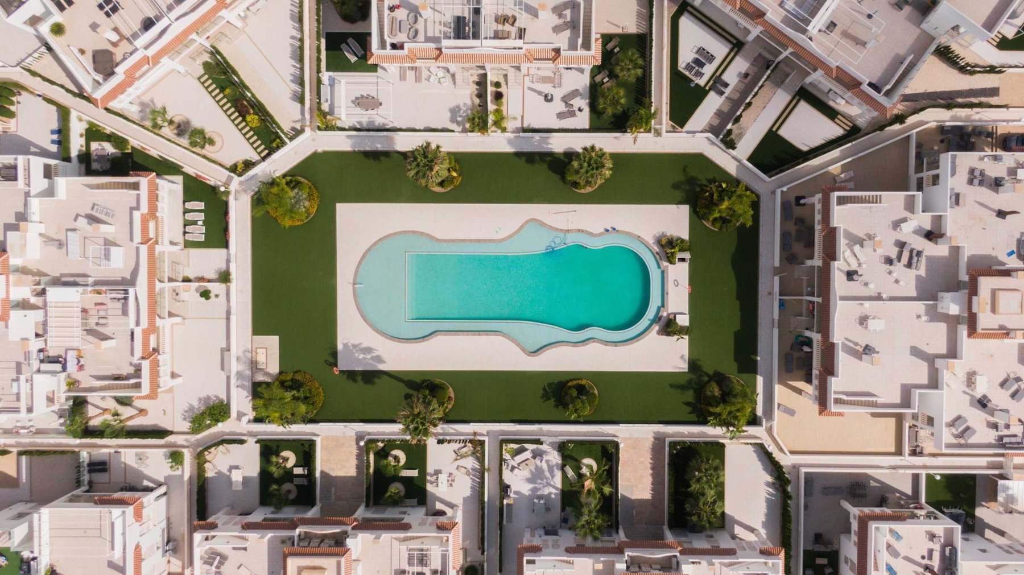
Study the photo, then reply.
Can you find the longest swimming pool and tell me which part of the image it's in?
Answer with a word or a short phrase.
center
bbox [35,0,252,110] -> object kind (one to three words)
house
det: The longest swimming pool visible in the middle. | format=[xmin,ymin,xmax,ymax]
[353,218,668,357]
